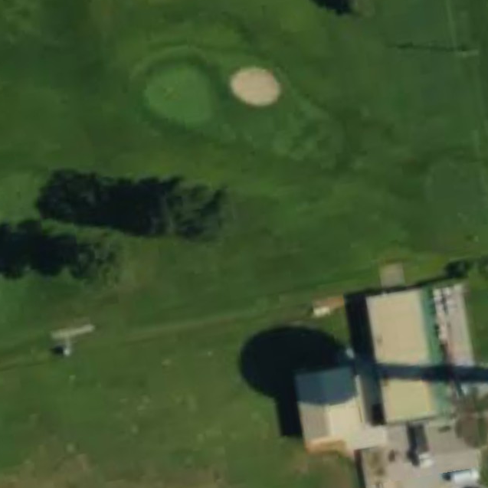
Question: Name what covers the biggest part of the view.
grass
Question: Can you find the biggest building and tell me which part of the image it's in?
bottom right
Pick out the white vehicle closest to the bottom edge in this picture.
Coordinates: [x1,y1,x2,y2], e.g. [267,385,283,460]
[449,468,481,483]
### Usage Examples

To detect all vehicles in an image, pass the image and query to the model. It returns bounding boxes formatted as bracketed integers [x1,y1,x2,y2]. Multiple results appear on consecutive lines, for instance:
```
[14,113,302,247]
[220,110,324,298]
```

[415,427,433,465]
[449,468,481,483]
